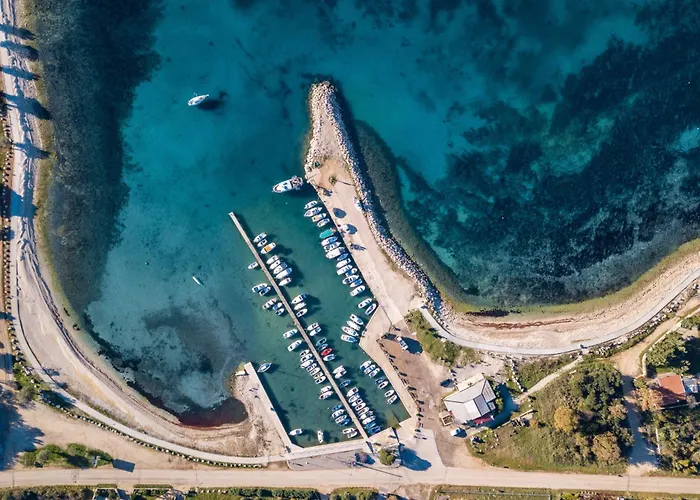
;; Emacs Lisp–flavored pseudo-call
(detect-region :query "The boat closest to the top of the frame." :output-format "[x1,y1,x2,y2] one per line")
[188,90,209,107]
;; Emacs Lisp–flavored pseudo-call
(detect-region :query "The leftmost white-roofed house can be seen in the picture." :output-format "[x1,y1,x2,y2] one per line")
[443,371,496,424]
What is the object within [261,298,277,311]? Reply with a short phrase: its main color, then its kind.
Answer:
white boat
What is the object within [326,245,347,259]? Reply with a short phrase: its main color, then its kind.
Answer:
white boat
